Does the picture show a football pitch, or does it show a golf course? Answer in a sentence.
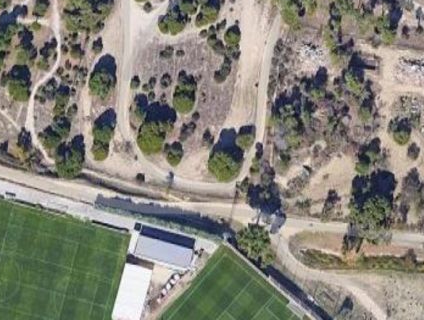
I can see a football pitch in this picture.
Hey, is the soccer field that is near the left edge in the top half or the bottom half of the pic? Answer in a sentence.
You can find the soccer field that is near the left edge in the bottom half.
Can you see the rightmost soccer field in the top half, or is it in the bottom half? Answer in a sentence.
The bottom half of the photo is where the rightmost soccer field is.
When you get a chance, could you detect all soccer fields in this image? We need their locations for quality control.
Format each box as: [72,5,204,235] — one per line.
[168,243,318,320]
[0,203,130,320]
